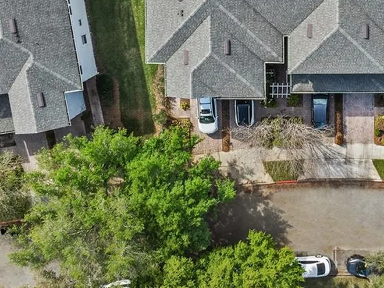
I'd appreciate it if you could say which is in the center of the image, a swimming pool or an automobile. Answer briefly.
automobile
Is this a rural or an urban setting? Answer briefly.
urban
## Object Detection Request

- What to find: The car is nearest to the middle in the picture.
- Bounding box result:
[195,100,223,134]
